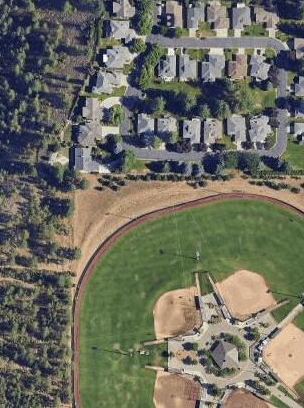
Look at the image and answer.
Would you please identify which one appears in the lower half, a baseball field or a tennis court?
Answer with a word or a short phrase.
baseball field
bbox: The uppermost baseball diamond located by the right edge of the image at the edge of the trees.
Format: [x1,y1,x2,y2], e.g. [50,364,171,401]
[202,193,304,326]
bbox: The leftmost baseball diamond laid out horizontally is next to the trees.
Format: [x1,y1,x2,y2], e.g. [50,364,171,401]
[74,357,201,408]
